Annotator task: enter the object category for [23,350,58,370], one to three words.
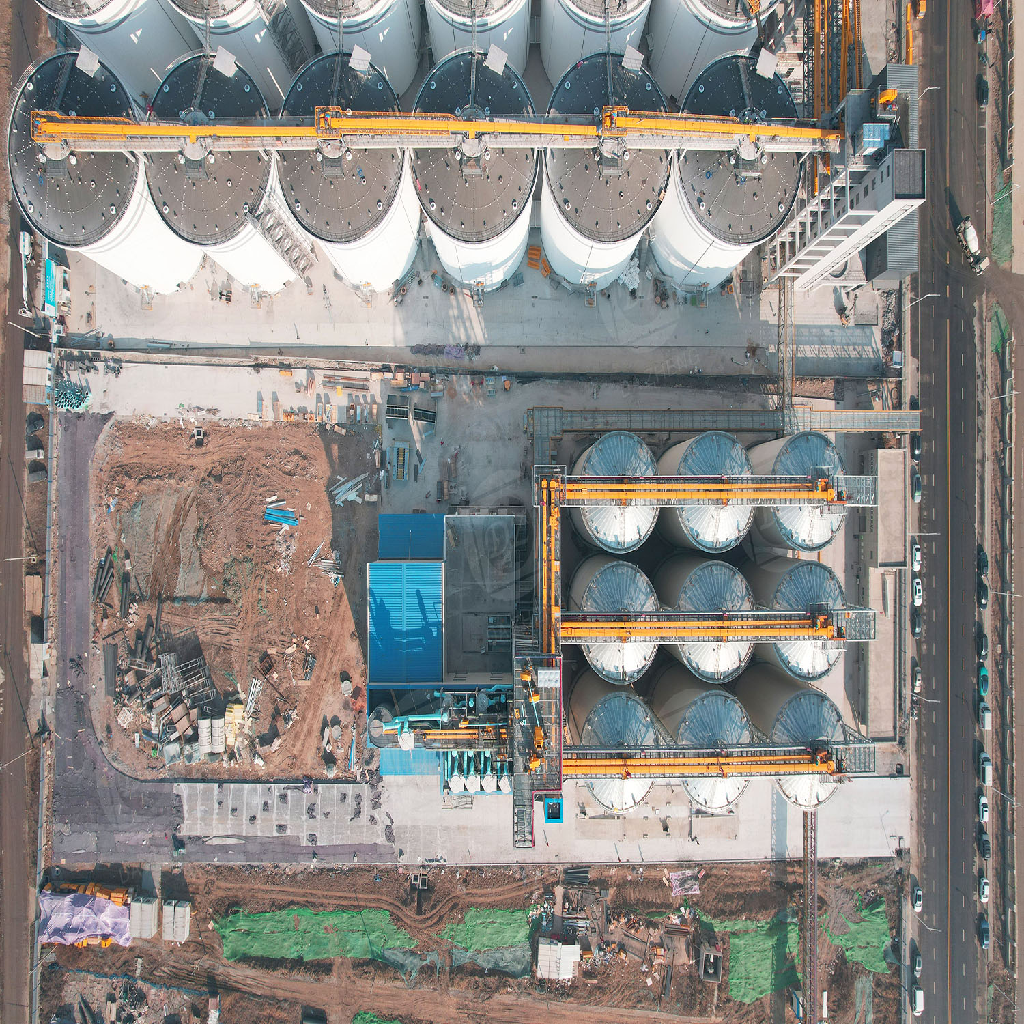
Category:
building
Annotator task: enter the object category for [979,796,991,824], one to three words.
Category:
vehicle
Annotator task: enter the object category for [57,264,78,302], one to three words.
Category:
building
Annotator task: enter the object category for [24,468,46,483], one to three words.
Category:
vehicle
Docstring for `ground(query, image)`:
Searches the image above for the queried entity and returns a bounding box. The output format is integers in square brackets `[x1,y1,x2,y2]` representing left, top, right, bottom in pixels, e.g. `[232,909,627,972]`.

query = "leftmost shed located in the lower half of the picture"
[30,641,51,679]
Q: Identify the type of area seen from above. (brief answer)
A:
industrial area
